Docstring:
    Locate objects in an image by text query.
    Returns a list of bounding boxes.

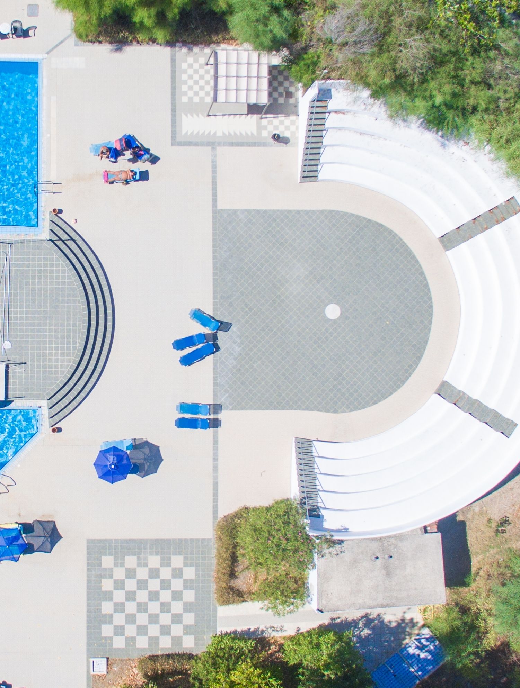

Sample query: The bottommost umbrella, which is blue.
[0,525,30,563]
